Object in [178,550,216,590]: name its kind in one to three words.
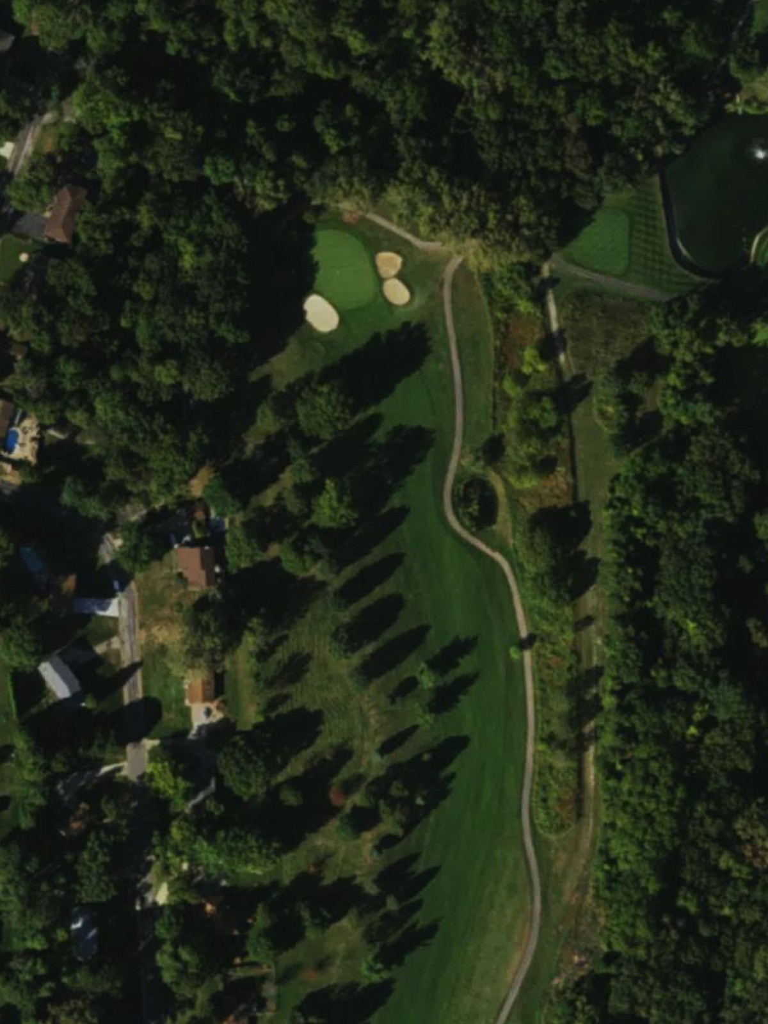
house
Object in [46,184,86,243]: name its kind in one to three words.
house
